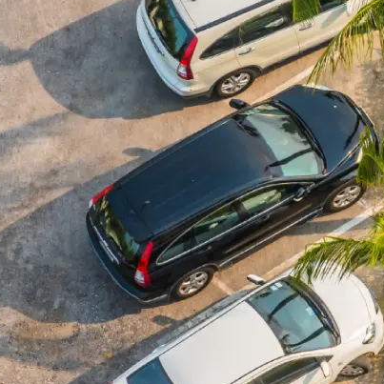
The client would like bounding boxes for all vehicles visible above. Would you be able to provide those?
[88,80,378,301]
[108,265,380,384]
[132,0,384,99]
